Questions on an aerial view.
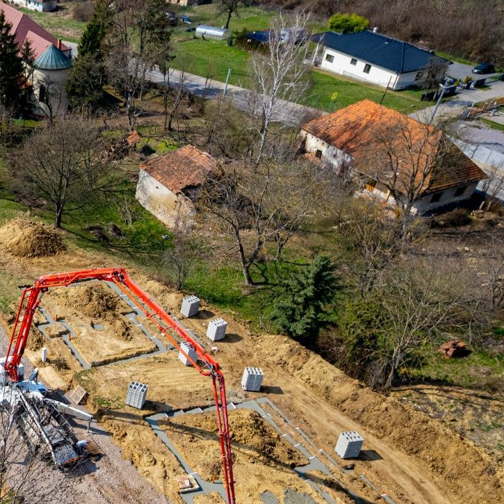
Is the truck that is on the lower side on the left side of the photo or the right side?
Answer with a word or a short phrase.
left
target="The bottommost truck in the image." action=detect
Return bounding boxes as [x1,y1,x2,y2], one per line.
[0,266,238,504]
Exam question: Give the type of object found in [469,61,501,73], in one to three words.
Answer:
vehicle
